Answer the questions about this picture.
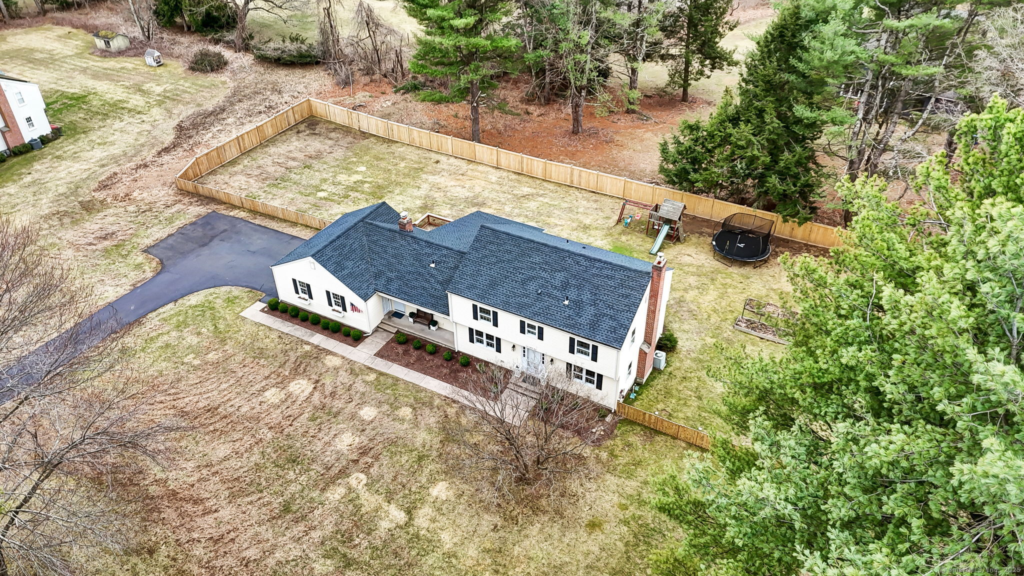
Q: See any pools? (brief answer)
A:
No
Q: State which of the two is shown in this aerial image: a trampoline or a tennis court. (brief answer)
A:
trampoline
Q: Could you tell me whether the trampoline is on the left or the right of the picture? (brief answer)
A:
right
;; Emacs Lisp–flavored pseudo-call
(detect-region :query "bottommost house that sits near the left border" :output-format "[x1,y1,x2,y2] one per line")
[0,72,52,156]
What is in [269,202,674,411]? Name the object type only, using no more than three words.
house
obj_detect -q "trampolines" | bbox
[708,212,780,272]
